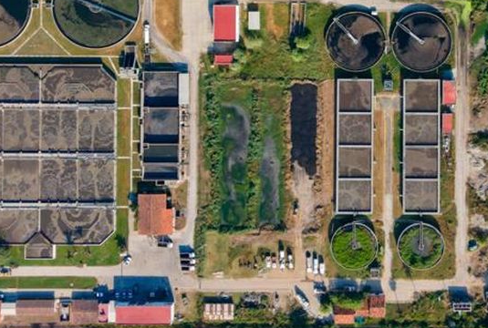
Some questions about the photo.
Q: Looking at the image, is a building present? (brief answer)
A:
Yes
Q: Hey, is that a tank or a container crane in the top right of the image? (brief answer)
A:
tank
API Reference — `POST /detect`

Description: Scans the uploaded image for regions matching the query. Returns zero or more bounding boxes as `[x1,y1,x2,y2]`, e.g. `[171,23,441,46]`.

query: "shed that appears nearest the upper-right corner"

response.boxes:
[442,81,456,105]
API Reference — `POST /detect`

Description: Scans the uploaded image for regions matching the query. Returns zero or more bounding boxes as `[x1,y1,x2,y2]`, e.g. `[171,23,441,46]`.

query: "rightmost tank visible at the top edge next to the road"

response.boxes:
[392,12,452,72]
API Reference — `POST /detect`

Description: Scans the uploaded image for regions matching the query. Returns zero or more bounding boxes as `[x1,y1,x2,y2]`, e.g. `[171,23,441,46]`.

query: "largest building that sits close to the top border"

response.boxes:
[214,5,239,40]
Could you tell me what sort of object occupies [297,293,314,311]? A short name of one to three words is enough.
vehicle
